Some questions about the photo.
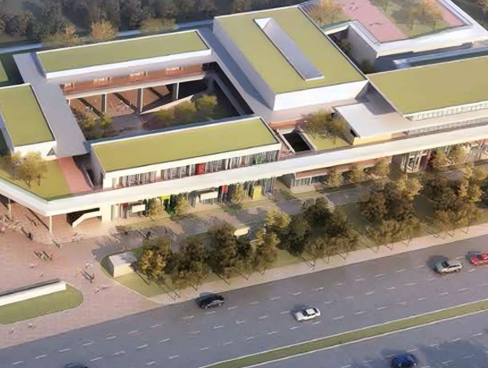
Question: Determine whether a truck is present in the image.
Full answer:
No, I can't see a single truck in this photo.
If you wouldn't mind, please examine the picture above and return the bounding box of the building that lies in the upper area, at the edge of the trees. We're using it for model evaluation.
[0,0,488,232]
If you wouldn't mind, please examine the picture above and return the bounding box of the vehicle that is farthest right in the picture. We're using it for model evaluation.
[468,250,488,264]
